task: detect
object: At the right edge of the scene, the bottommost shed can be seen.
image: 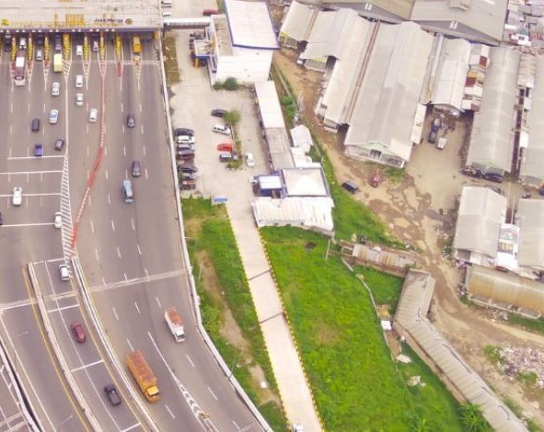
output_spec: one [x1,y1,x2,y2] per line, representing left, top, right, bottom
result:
[395,317,528,432]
